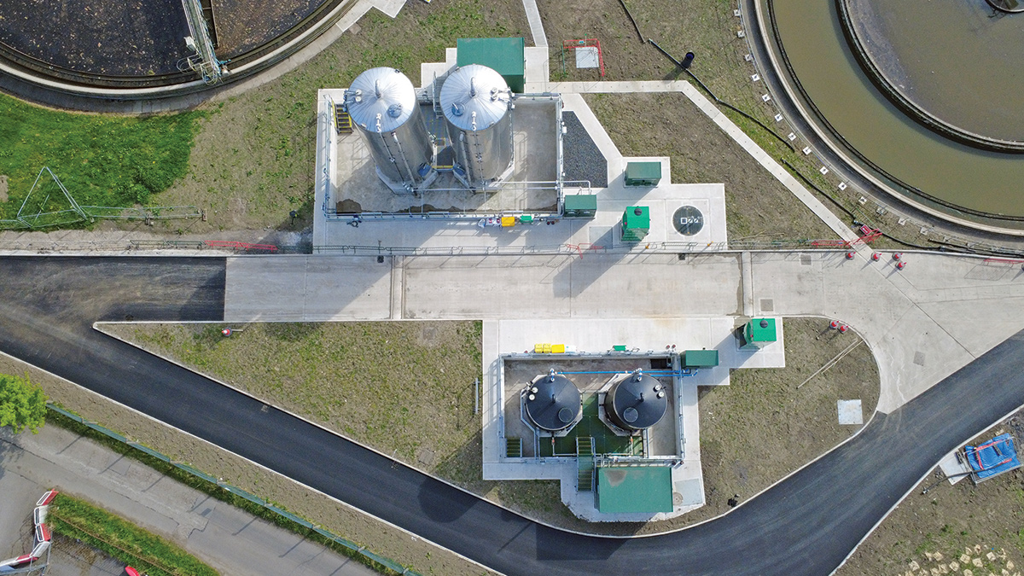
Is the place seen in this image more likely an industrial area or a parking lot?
industrial area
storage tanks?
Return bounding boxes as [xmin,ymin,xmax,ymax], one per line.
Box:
[605,368,671,444]
[440,65,517,188]
[739,0,1024,250]
[341,68,438,190]
[0,0,374,112]
[523,367,583,446]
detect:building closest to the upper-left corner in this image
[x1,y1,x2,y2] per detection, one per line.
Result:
[457,36,526,91]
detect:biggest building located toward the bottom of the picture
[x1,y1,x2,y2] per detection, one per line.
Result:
[595,467,673,514]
